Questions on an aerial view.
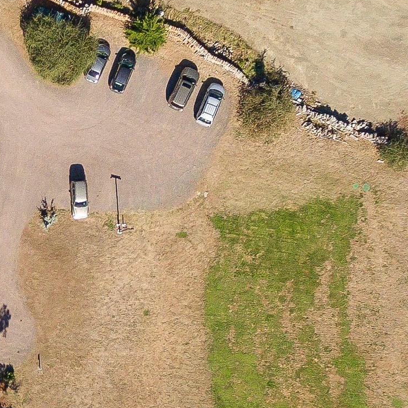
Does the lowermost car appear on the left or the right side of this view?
left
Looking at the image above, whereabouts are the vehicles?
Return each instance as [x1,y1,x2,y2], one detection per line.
[167,63,197,112]
[84,40,112,84]
[32,0,74,21]
[110,47,137,95]
[67,178,90,222]
[195,80,225,129]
